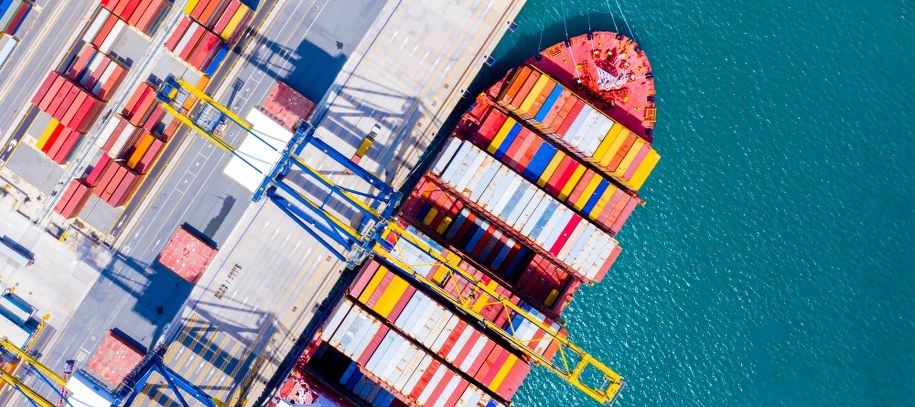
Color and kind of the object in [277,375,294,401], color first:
red boat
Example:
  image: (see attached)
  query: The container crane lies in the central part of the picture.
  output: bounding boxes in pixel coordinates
[149,72,628,407]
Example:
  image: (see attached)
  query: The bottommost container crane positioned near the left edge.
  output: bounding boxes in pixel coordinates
[0,332,257,407]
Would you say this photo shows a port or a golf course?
port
